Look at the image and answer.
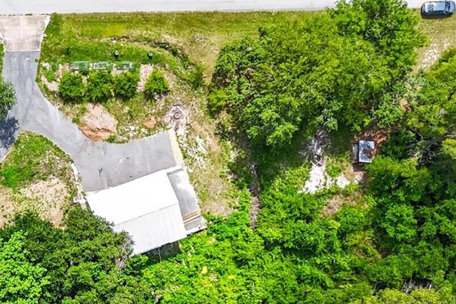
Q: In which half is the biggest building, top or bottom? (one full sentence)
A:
The biggest building is in the bottom half of the image.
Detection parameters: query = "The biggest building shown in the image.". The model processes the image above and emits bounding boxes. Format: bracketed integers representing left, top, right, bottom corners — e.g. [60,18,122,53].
[86,168,187,252]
